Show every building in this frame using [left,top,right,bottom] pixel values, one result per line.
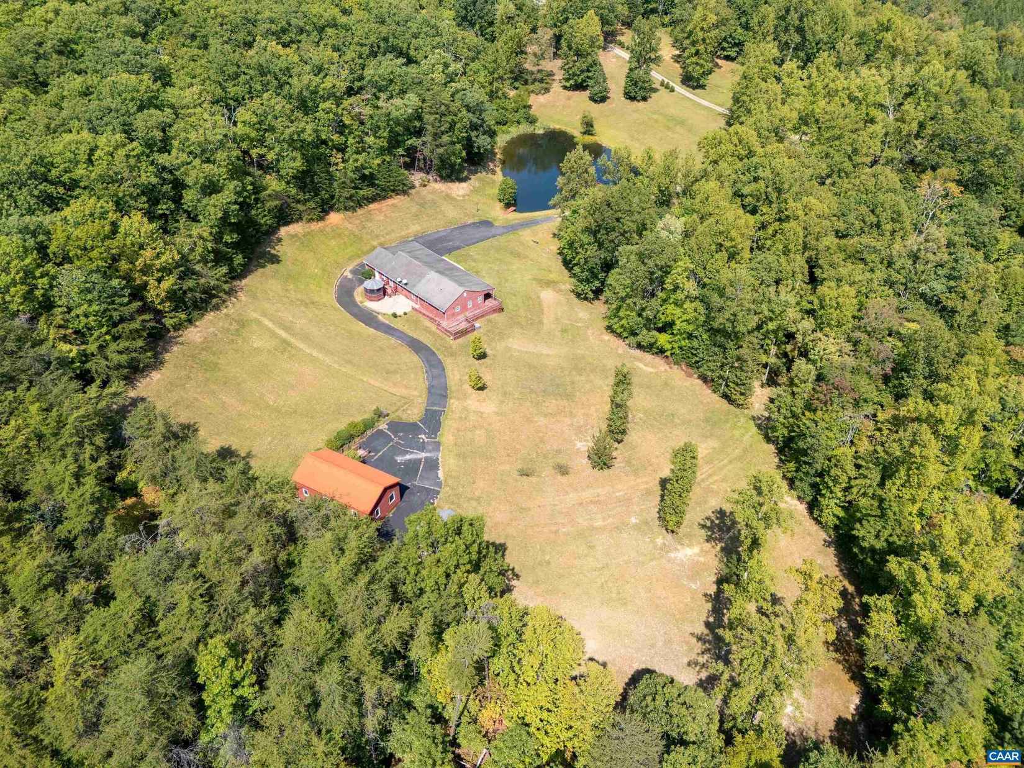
[363,241,495,322]
[293,448,401,522]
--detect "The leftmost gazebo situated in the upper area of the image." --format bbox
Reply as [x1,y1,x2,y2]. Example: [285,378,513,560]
[361,279,382,301]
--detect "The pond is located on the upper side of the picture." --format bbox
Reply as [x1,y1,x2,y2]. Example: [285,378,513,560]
[495,130,627,215]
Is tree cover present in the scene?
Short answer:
Yes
